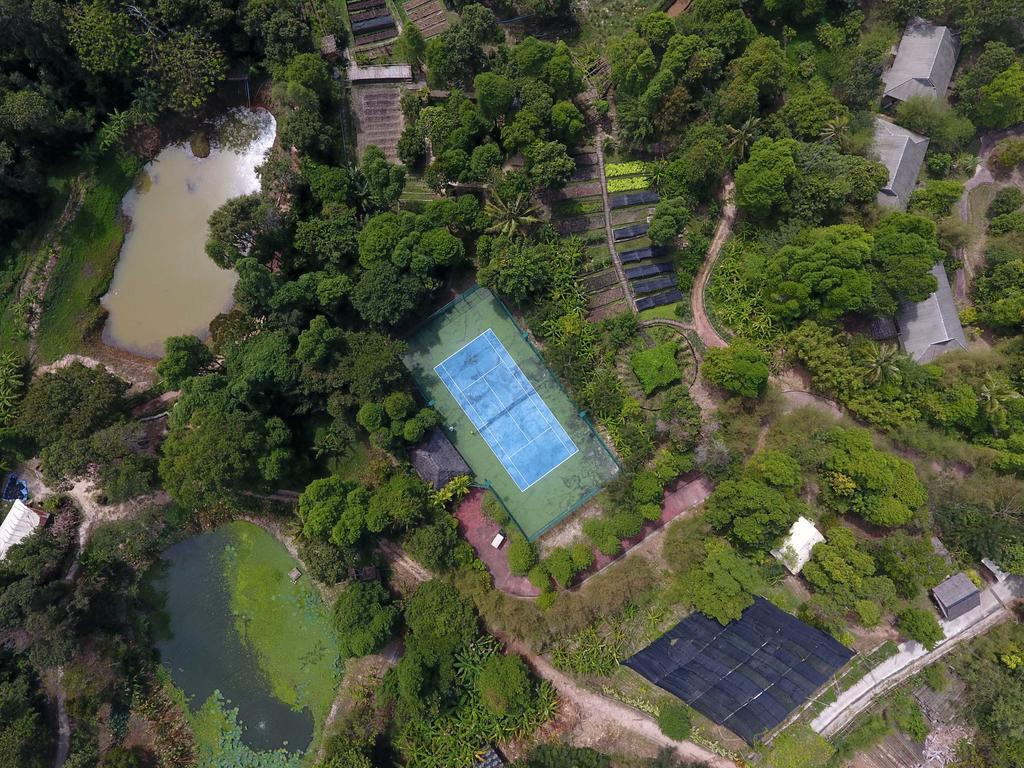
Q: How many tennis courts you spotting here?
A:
1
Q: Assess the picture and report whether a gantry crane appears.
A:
No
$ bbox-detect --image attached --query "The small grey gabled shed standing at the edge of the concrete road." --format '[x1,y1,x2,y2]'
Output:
[932,573,980,621]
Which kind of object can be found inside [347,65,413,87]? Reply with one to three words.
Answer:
shed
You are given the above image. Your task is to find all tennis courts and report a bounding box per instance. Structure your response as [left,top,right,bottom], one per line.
[396,286,620,541]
